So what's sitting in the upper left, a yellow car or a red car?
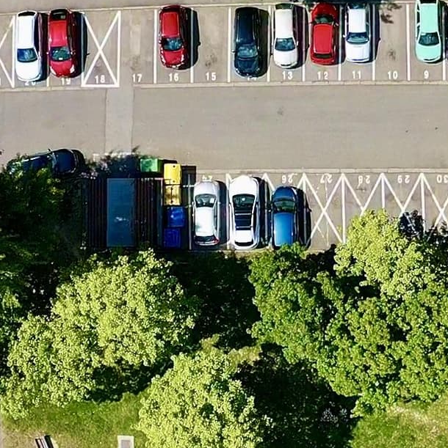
red car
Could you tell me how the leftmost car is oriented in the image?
up and down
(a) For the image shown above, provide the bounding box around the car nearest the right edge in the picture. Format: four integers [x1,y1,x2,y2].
[414,0,446,64]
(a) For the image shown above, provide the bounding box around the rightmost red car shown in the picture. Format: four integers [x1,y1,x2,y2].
[307,5,339,65]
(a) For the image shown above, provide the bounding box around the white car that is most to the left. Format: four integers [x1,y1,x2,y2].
[11,13,47,81]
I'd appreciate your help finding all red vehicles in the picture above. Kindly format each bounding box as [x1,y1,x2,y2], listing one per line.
[307,5,339,65]
[157,7,190,70]
[46,10,80,77]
